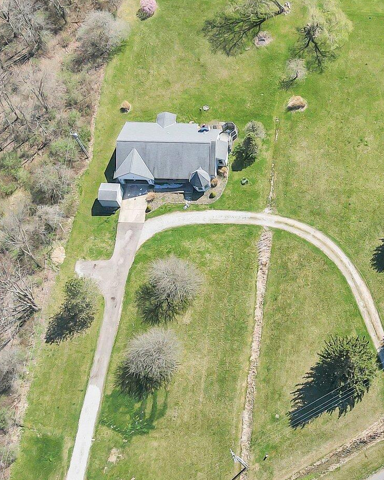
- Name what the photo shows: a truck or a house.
house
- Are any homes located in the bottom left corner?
No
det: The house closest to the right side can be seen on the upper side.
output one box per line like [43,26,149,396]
[112,108,234,206]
